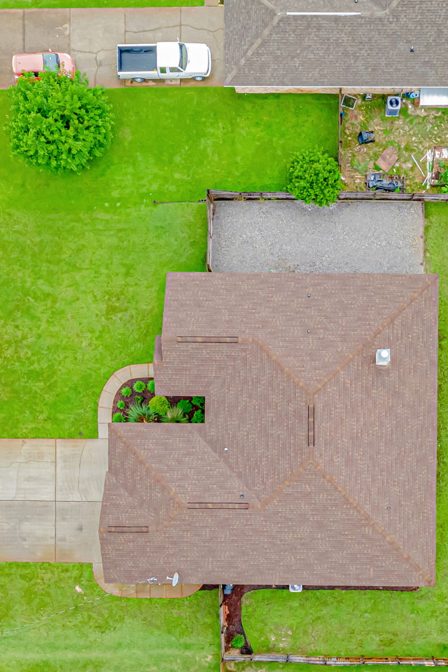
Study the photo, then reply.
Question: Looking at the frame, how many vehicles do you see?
2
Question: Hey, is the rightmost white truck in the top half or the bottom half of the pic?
top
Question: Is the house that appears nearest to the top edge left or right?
right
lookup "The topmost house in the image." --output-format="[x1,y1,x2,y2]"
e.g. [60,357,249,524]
[222,0,448,95]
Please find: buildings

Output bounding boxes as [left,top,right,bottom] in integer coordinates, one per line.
[222,0,448,95]
[99,272,439,587]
